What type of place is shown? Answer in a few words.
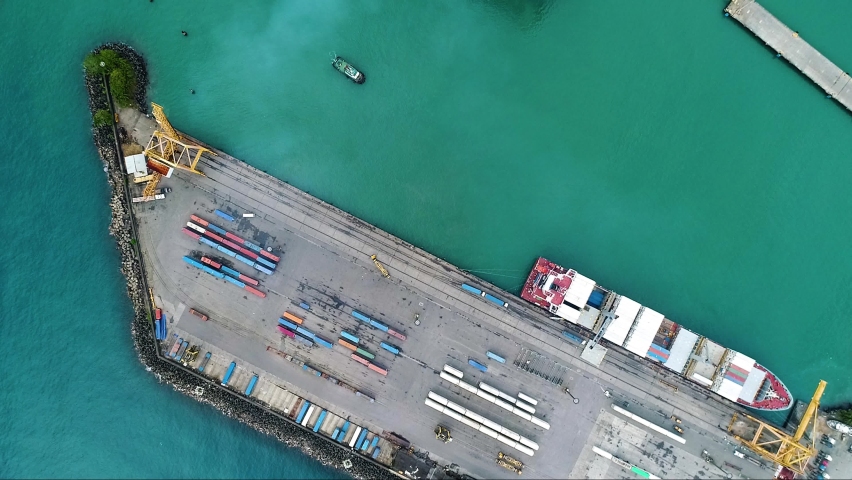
port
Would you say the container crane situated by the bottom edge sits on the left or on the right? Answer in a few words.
right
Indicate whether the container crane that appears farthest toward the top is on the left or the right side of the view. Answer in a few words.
left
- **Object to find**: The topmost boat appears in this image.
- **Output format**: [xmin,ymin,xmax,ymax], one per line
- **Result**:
[333,58,365,84]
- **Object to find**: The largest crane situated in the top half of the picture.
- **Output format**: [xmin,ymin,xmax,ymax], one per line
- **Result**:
[140,101,220,202]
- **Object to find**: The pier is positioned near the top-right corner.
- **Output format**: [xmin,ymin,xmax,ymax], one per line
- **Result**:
[725,0,852,114]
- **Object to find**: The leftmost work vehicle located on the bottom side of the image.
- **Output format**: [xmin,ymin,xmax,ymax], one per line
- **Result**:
[181,344,204,364]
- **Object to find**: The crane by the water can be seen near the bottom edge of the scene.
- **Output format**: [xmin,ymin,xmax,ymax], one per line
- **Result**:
[732,379,828,480]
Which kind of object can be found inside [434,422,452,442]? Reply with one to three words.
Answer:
work vehicle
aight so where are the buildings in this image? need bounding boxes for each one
[392,447,440,480]
[125,154,151,178]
